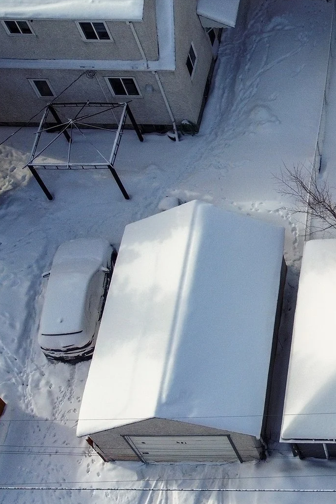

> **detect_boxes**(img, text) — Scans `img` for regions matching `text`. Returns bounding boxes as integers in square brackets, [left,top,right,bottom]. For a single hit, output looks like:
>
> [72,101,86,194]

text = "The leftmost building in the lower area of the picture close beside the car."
[79,209,292,467]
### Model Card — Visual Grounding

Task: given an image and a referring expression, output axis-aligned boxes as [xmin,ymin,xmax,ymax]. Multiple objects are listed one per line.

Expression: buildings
[281,242,336,463]
[79,209,292,467]
[0,0,246,141]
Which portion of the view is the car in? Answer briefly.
left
